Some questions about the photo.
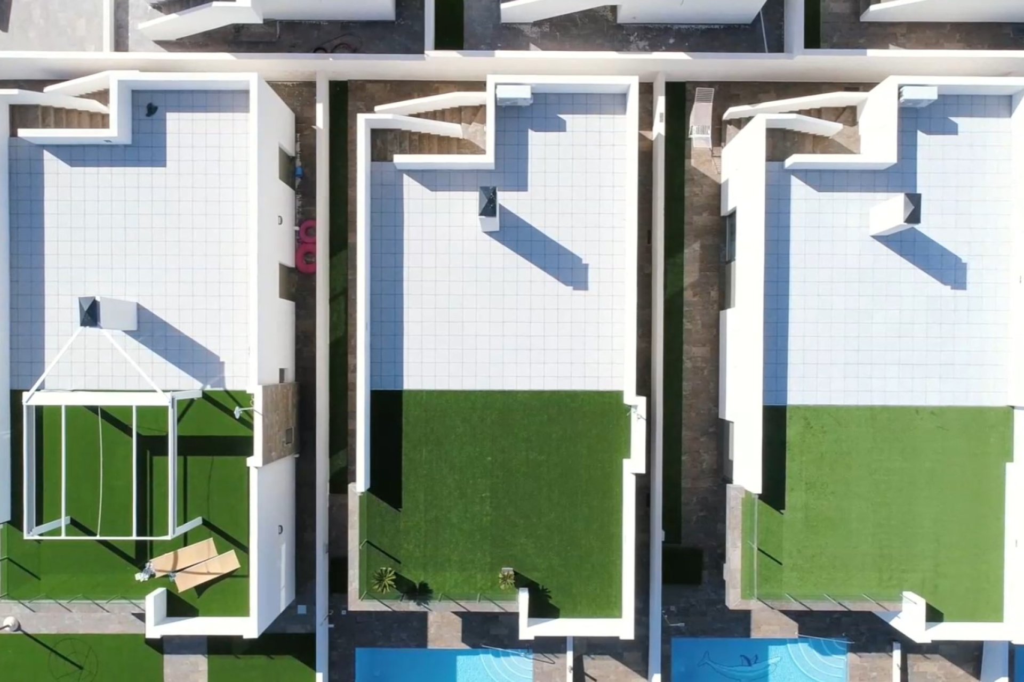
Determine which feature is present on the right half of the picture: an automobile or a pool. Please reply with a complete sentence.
Looking on the right half of the picture, you will find a pool.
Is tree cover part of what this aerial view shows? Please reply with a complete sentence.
No, there's no tree cover in this view.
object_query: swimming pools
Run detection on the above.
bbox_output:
[670,637,848,682]
[1013,642,1024,682]
[355,648,532,682]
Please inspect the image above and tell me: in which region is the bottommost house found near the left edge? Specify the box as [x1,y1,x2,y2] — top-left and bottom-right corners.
[0,68,305,638]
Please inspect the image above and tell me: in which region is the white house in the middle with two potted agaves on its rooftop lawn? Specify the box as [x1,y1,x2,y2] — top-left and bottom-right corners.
[348,75,646,639]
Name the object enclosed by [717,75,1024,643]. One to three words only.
house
